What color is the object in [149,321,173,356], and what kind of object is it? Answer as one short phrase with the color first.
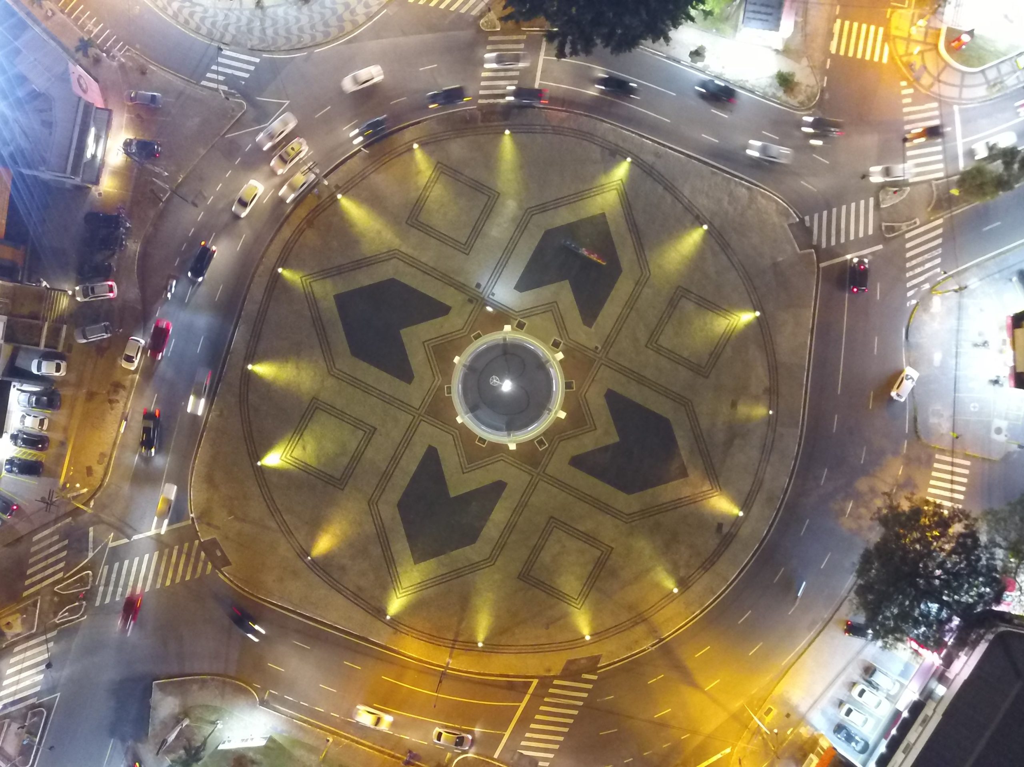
red car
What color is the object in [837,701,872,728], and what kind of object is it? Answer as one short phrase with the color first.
white car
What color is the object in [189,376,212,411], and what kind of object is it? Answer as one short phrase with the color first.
gray car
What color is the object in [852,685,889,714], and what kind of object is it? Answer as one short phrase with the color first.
white car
